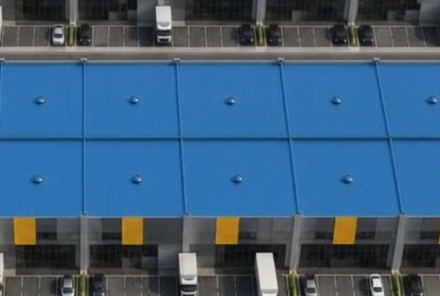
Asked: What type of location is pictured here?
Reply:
industrial area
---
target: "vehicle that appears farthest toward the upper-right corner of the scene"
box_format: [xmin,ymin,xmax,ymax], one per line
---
[360,24,373,46]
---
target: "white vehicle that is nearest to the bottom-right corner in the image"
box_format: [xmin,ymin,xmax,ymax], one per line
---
[370,276,385,296]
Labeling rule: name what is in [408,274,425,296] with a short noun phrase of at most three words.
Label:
car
